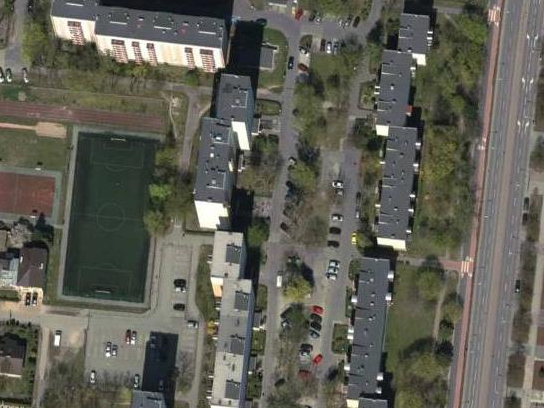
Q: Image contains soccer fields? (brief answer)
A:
Yes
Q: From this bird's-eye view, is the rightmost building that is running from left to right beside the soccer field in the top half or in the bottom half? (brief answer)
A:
top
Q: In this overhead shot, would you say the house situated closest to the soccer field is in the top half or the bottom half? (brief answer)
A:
bottom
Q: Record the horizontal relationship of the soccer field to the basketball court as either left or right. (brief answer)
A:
on its right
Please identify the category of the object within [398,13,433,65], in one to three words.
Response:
building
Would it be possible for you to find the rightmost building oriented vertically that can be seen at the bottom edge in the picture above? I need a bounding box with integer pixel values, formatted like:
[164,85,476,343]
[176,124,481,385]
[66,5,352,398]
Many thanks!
[345,258,395,408]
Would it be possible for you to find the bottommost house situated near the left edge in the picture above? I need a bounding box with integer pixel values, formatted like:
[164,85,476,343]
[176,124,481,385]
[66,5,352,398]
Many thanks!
[0,338,27,378]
